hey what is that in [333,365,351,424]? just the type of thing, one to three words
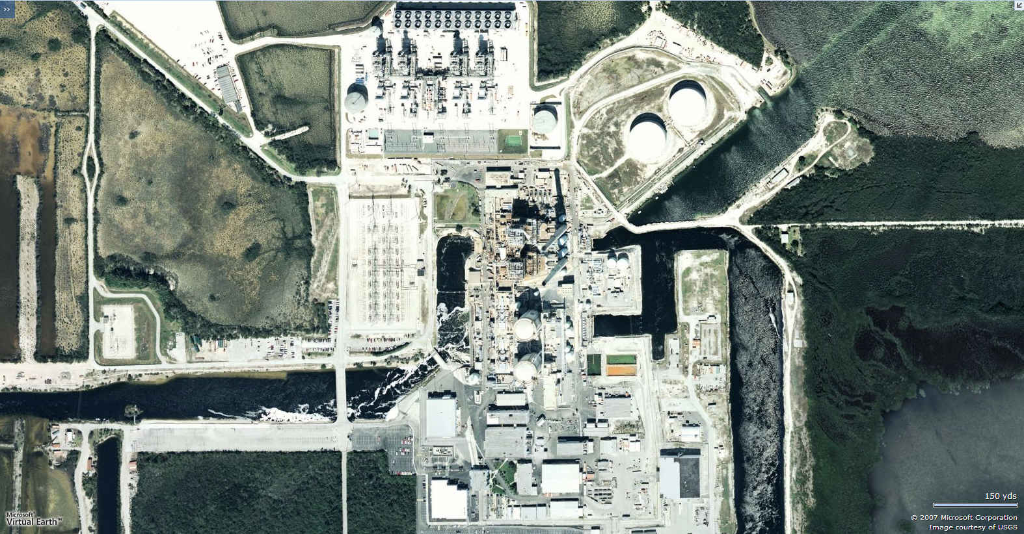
bridge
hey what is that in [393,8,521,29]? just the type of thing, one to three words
cooling tower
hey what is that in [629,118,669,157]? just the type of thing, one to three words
storage tank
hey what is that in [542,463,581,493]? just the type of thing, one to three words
building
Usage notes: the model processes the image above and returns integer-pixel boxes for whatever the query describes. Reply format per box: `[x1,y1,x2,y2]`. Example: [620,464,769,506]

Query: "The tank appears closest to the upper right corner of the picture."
[669,85,709,125]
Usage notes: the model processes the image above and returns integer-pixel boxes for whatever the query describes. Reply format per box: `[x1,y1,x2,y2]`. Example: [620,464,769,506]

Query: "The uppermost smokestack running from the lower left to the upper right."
[542,220,572,251]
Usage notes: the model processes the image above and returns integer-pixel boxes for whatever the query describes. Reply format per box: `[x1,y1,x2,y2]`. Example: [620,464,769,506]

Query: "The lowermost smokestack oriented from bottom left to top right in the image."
[542,254,572,286]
